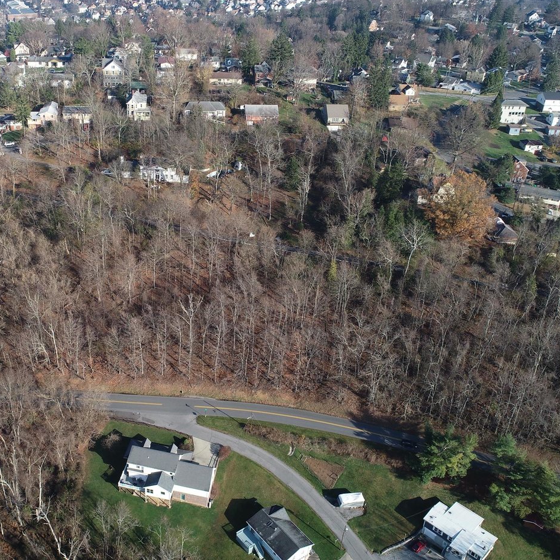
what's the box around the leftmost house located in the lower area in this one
[113,429,227,517]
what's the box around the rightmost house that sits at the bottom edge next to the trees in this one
[423,496,504,560]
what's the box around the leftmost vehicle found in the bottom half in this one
[338,492,368,511]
